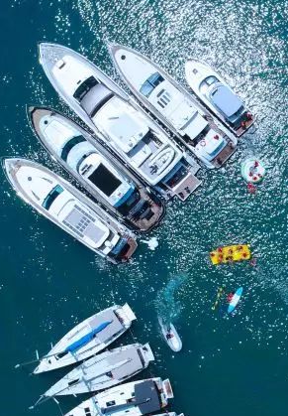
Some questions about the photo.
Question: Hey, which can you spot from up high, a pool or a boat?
boat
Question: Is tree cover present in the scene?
No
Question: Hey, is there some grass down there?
No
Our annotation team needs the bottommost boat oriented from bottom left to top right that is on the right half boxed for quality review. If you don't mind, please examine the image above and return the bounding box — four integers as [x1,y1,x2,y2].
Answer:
[228,288,243,313]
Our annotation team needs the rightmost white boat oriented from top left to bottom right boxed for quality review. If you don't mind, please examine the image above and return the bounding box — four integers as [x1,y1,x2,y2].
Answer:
[185,59,254,134]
